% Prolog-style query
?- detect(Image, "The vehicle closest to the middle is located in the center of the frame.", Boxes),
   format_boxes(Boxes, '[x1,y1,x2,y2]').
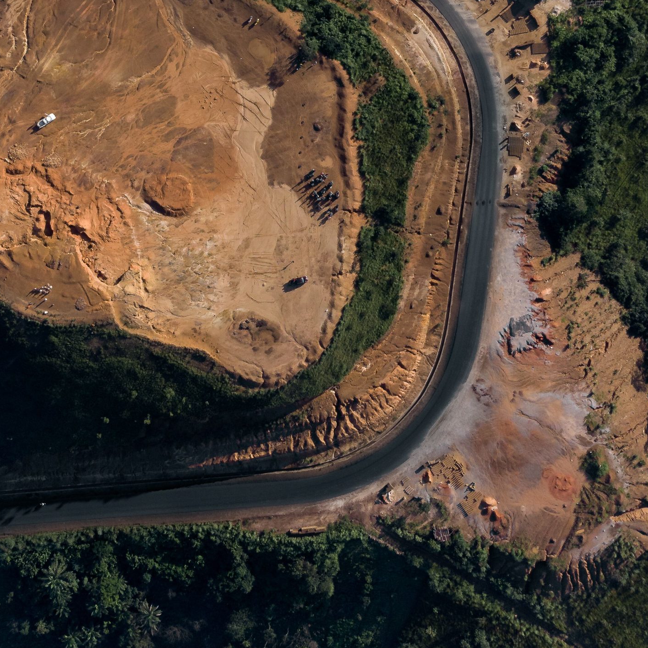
[285,275,309,289]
